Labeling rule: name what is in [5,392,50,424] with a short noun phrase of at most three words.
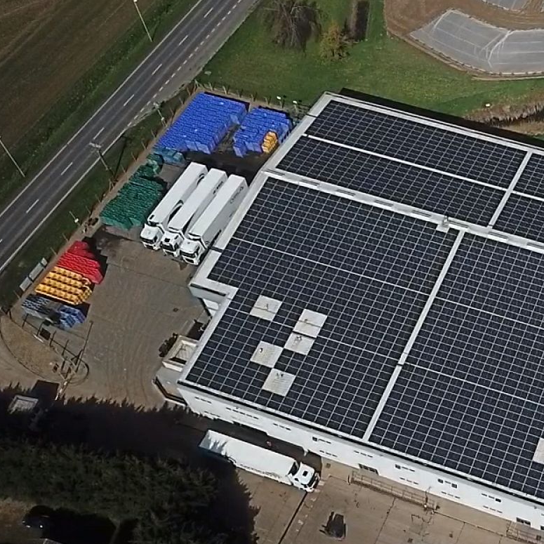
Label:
building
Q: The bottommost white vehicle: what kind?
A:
truck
